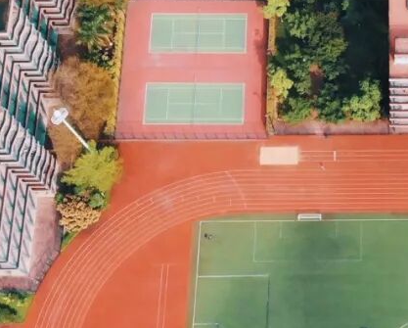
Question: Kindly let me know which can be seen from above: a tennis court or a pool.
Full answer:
It is a tennis court that can be seen here.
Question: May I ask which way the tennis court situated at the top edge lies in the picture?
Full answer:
In this picture, the tennis court situated at the top edge lies from side to side.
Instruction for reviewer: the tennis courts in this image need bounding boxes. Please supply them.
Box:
[147,13,248,53]
[142,79,246,127]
